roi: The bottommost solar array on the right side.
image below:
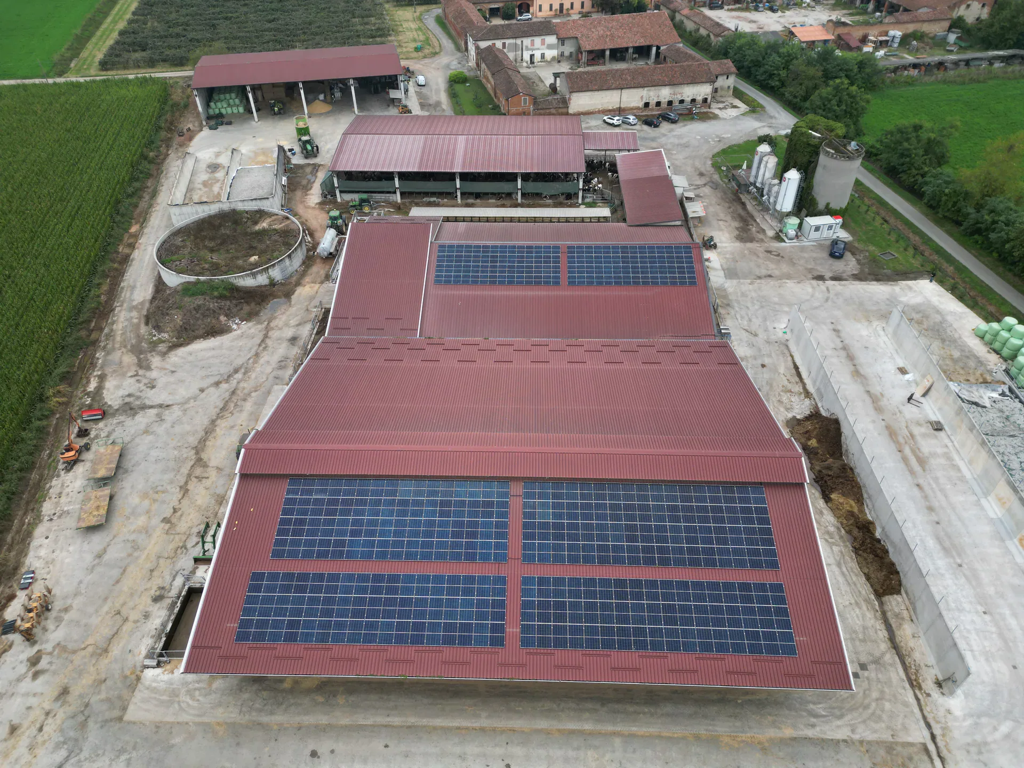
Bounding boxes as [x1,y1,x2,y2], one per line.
[519,576,797,656]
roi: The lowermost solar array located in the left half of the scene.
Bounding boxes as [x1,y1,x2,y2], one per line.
[234,571,508,648]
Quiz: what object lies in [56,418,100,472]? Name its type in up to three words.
work vehicle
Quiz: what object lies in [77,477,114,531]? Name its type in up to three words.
trailer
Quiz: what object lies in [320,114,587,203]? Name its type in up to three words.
barn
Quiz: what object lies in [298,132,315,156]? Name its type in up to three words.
work vehicle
